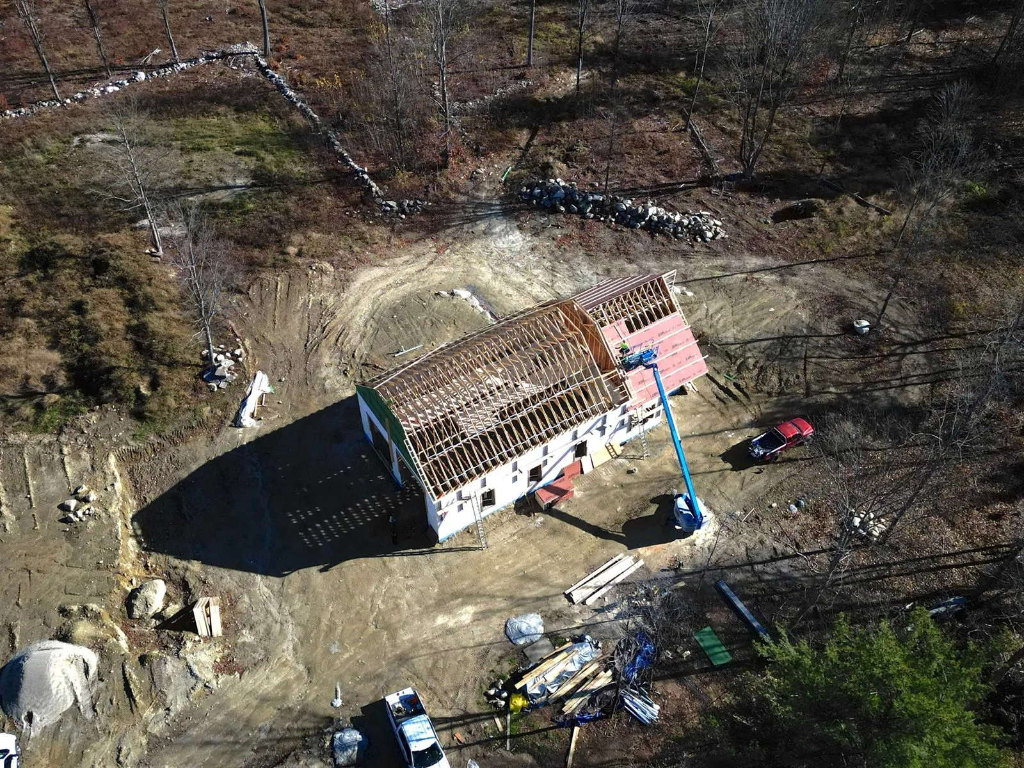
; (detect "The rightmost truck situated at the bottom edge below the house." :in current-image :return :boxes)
[381,681,446,768]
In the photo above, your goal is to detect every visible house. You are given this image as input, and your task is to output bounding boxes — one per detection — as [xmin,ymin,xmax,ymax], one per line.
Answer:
[353,272,713,543]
